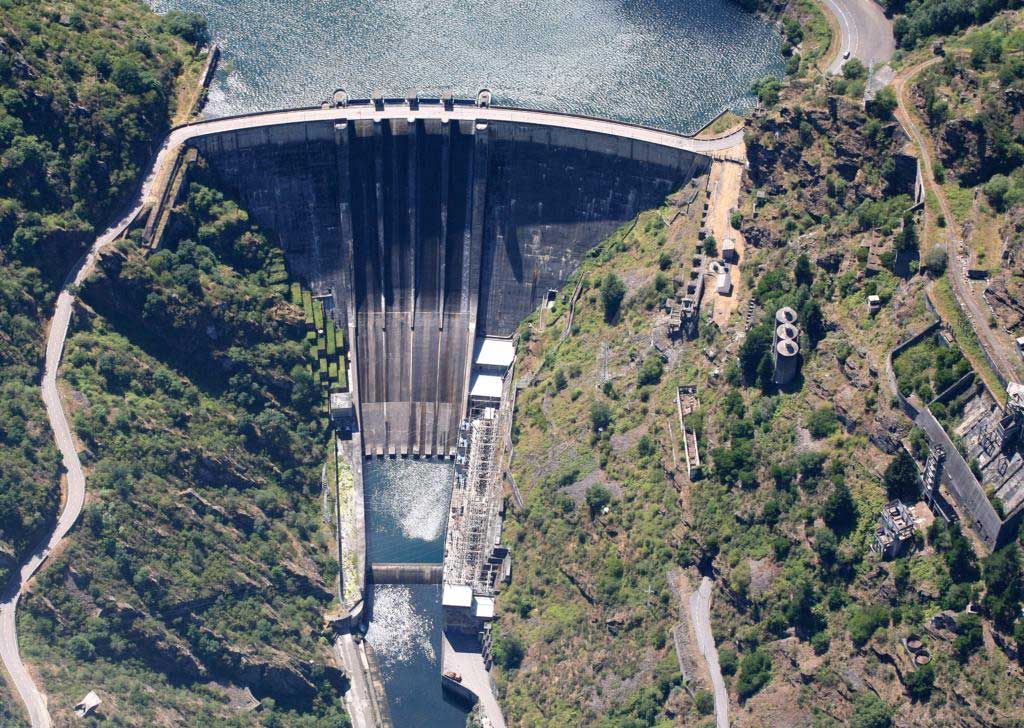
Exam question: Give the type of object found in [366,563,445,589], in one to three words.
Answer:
dam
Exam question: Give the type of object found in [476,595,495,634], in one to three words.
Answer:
building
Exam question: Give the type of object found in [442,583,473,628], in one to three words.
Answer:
building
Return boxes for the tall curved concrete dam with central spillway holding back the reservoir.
[178,90,703,459]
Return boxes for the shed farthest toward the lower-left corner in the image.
[80,691,103,718]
